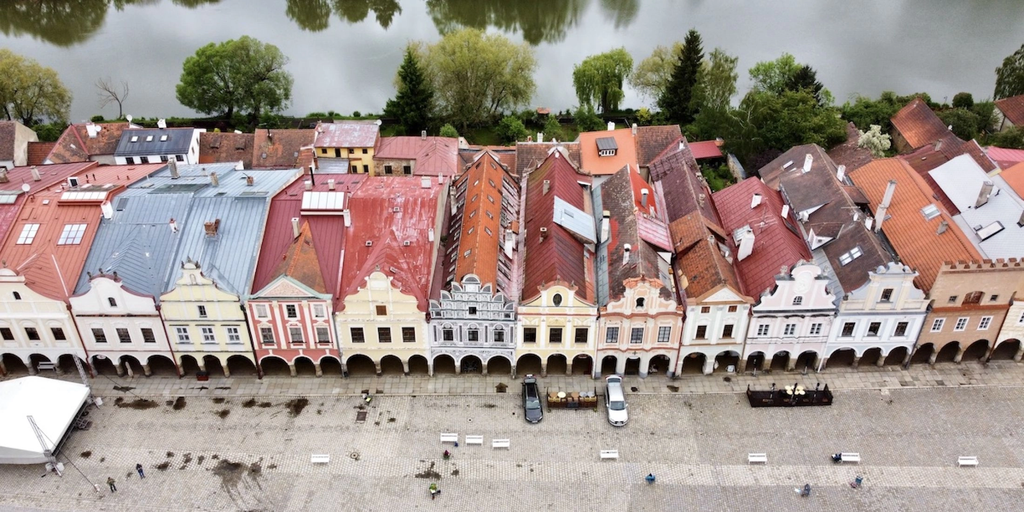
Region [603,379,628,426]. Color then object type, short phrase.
white car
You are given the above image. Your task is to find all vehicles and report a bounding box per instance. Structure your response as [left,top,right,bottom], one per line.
[603,379,628,426]
[522,376,546,423]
